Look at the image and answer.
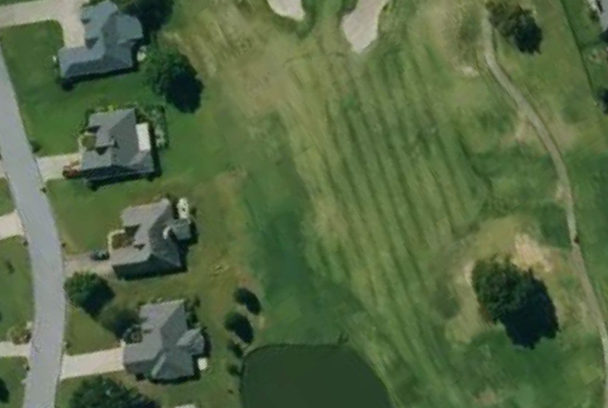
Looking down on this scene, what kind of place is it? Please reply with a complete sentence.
This image shows a golf course.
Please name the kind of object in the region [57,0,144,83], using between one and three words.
house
